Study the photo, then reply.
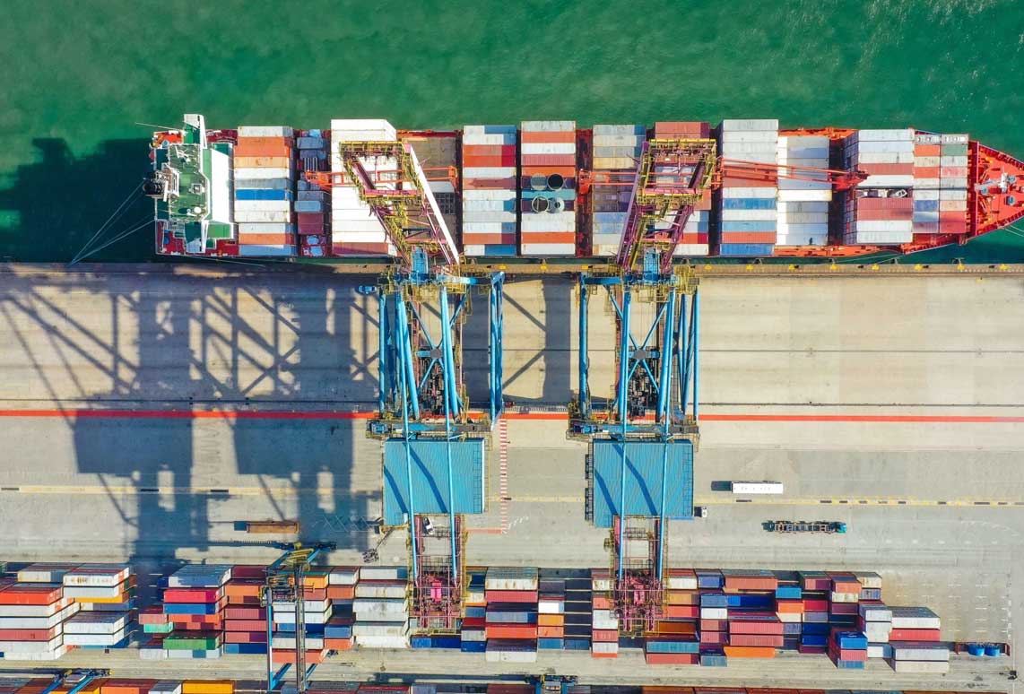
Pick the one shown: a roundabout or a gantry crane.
gantry crane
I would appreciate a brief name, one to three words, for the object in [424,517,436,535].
vehicle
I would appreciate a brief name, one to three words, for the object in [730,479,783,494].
trailer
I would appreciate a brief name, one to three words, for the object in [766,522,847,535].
vehicle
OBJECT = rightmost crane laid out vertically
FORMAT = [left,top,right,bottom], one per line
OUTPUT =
[554,138,720,633]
